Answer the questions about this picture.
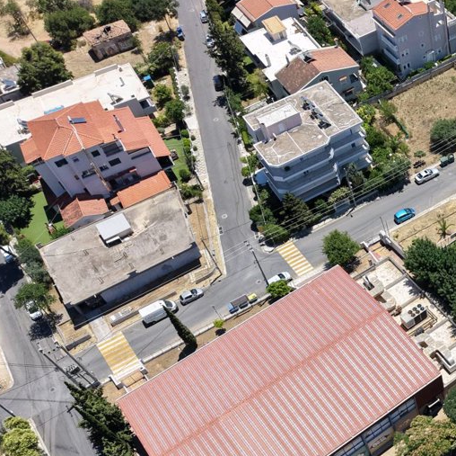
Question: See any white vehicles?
Yes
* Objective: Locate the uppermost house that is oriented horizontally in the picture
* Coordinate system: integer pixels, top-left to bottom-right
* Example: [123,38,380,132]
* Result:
[227,0,305,33]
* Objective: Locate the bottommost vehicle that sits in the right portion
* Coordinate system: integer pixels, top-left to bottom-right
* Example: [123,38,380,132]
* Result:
[264,267,291,284]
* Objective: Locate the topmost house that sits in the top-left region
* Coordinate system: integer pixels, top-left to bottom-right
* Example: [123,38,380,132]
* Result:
[83,21,132,57]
